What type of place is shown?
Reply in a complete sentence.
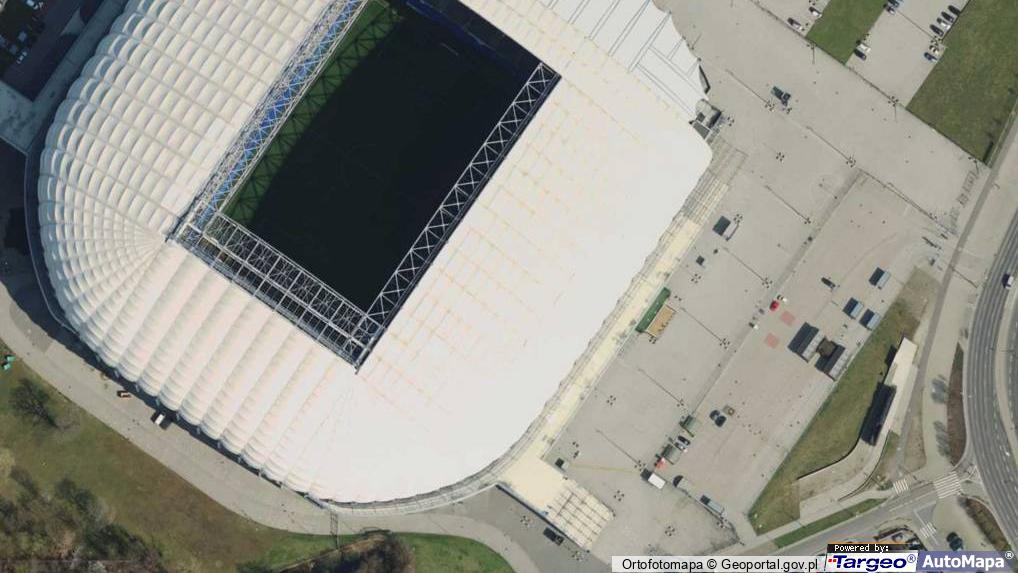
The area seen from above is a sports ground.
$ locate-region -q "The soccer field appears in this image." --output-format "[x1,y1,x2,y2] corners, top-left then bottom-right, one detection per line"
[216,0,536,326]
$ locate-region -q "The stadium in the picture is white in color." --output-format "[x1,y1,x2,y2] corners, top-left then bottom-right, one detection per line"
[34,0,721,502]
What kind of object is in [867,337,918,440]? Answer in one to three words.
building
